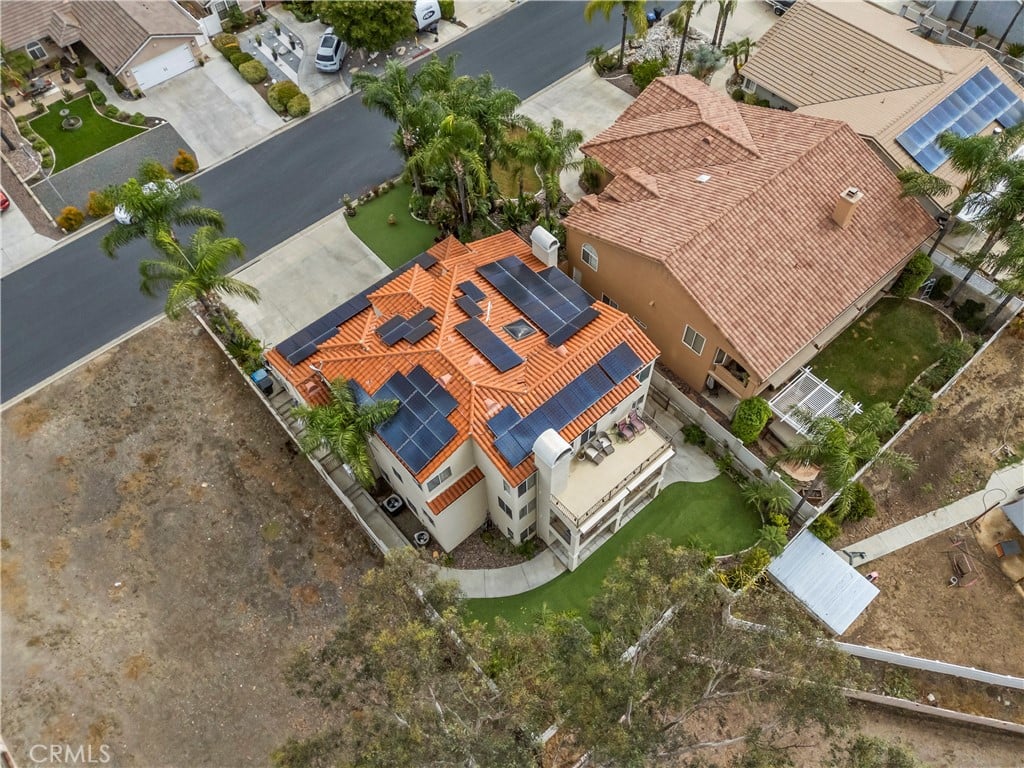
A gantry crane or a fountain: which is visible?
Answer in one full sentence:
There is a fountain in the scene.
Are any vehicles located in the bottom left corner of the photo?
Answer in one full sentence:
No, in the bottom left corner of the photo there is no vehicle.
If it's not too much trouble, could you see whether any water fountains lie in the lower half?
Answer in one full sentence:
No, there's no water fountain to be seen in the lower half.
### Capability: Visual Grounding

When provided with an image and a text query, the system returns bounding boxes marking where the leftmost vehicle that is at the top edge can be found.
[310,34,344,71]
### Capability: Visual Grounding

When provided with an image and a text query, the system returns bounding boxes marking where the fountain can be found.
[53,101,81,129]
